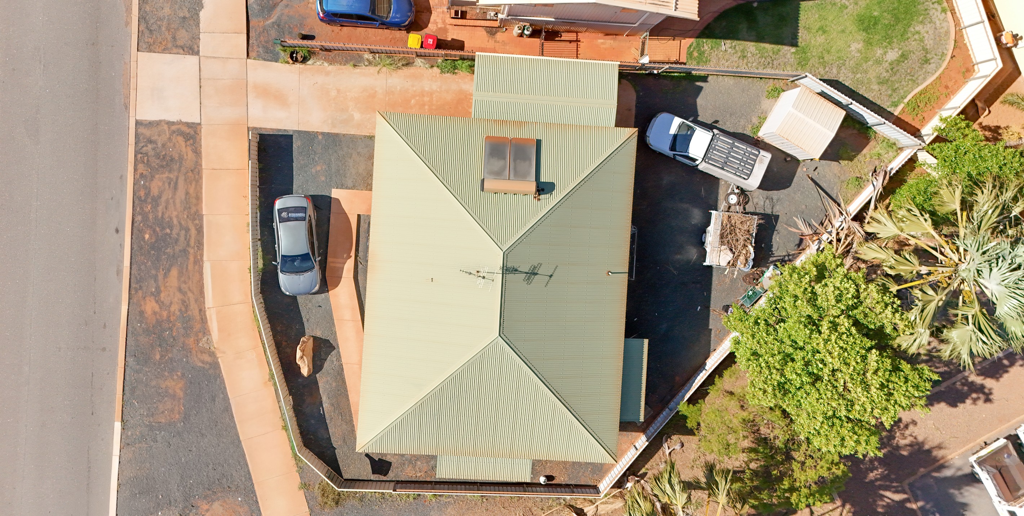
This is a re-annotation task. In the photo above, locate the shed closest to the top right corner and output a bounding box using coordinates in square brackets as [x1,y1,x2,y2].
[759,85,846,161]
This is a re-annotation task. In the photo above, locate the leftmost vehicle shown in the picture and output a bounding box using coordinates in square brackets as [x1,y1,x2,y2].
[272,195,322,298]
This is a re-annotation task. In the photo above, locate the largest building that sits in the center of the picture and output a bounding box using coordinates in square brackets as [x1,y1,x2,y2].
[353,107,648,483]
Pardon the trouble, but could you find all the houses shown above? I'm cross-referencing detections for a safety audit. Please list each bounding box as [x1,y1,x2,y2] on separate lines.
[447,0,703,39]
[353,107,648,483]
